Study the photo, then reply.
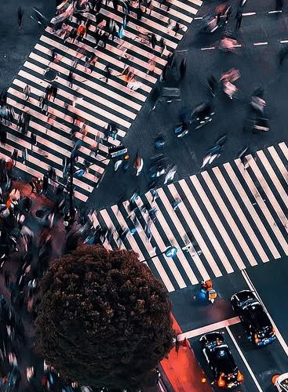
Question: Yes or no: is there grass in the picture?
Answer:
No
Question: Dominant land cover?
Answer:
paved ground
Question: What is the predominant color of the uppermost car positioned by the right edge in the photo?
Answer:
black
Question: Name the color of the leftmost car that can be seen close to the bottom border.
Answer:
black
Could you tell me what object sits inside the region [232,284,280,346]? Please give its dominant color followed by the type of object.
black car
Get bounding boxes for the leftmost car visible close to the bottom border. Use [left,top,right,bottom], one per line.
[197,327,244,389]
